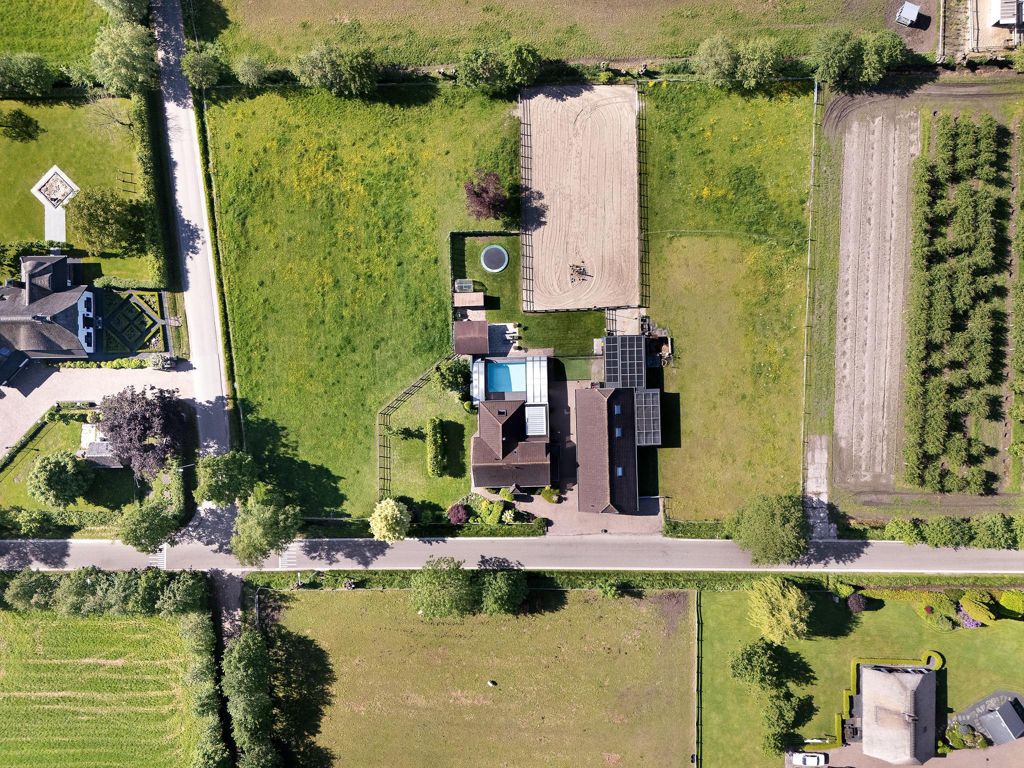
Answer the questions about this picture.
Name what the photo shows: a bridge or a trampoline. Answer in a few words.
trampoline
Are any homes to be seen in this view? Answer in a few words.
Yes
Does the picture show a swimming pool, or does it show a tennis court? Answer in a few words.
swimming pool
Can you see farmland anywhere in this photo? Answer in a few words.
Yes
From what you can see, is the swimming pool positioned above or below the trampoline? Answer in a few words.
below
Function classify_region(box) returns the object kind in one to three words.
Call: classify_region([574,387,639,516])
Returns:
barn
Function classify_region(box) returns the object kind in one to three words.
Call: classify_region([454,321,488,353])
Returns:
shed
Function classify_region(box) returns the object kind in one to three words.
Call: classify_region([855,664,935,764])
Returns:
house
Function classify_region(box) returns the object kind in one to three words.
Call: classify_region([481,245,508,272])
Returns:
trampoline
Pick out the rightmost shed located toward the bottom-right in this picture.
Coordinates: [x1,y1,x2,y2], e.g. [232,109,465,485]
[967,690,1024,746]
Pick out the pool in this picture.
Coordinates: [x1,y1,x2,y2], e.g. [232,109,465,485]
[484,356,526,401]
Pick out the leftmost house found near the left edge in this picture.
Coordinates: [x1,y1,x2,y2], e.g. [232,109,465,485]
[0,253,104,397]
